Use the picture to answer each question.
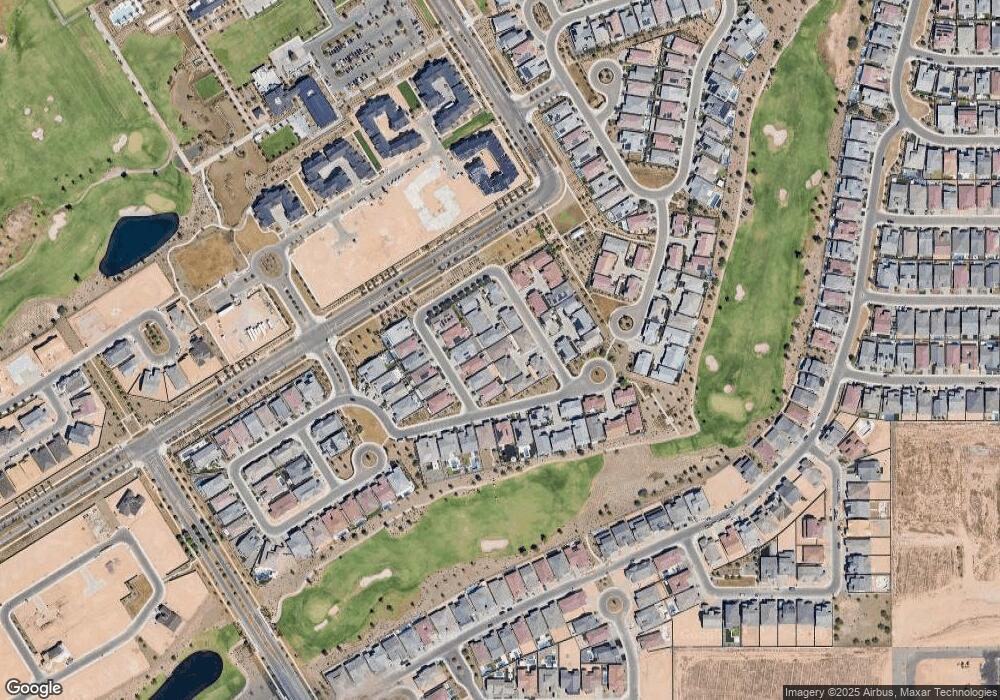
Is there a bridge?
Yes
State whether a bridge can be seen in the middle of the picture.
No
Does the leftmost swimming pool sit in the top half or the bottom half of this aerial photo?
top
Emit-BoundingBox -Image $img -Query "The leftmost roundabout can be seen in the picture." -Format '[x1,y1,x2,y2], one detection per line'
[254,247,288,281]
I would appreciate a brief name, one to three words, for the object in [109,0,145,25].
swimming pool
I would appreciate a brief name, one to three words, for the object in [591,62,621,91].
roundabout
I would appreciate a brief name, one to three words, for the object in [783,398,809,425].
house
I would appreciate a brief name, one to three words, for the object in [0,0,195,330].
golf course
